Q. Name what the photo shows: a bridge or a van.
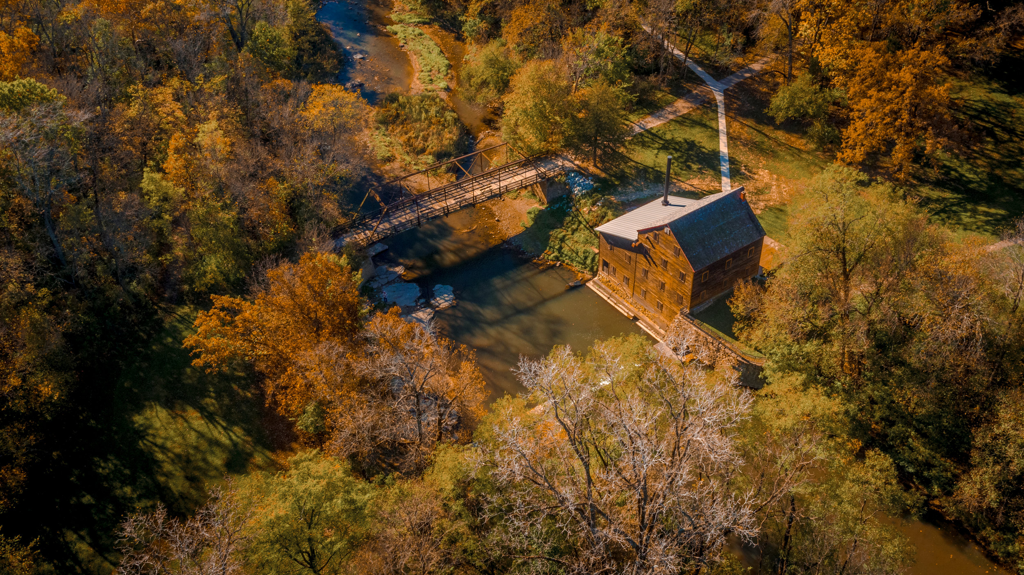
bridge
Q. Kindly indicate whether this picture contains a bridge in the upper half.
Yes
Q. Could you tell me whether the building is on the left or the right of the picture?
right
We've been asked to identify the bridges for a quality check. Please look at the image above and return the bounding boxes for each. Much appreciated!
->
[322,142,572,242]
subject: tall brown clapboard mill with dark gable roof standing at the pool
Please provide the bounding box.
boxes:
[596,197,769,343]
